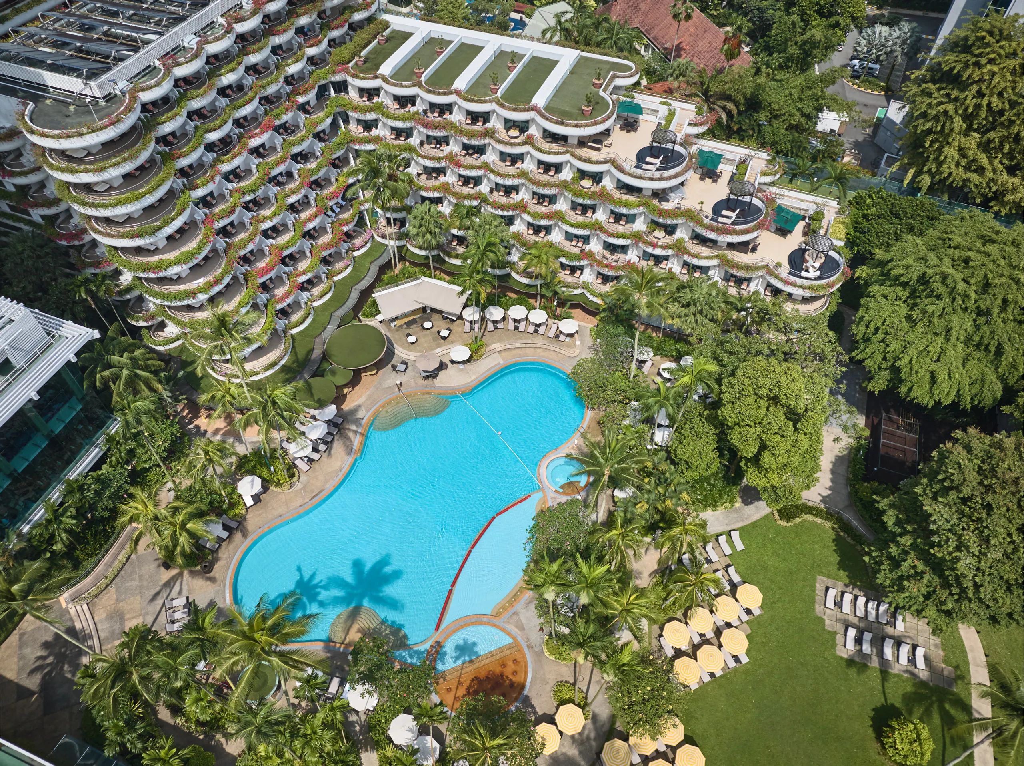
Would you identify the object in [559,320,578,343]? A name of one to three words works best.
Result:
umbrella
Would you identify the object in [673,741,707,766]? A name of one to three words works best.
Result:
umbrella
